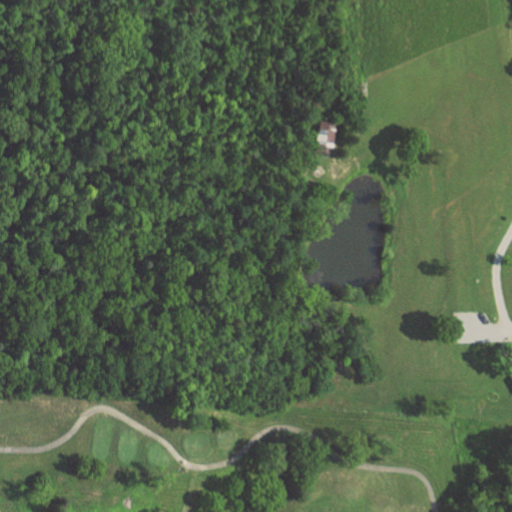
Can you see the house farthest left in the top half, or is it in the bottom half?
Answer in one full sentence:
The house farthest left sits in the top half of the picture.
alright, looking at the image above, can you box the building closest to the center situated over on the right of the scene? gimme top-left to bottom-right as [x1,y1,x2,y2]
[318,121,337,153]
